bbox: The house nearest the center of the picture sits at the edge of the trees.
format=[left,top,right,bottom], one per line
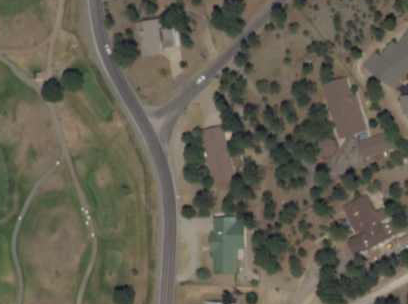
[202,126,234,189]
